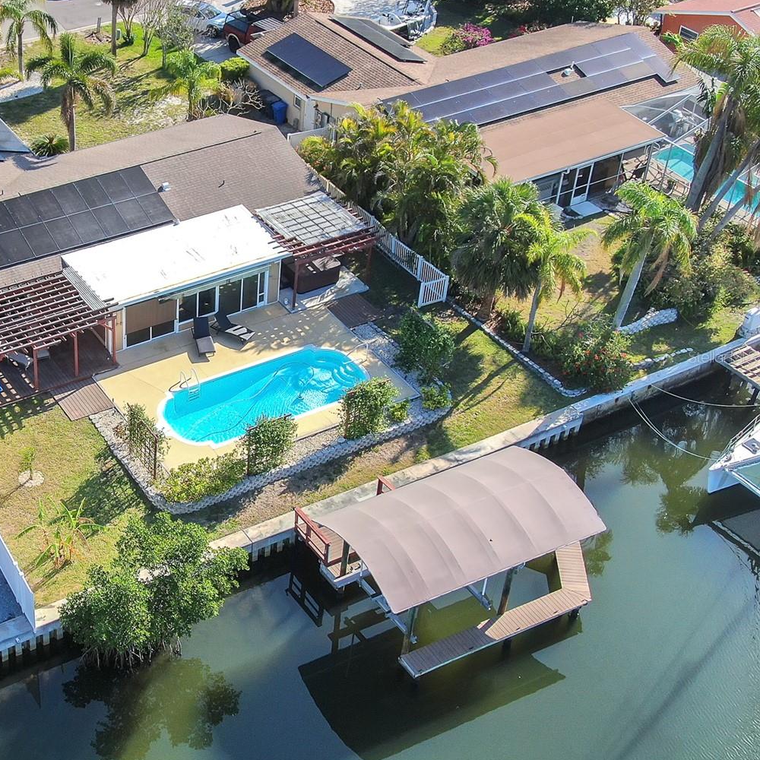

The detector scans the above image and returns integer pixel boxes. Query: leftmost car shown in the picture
[169,0,228,31]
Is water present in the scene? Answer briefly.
Yes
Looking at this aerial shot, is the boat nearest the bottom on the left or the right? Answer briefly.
right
